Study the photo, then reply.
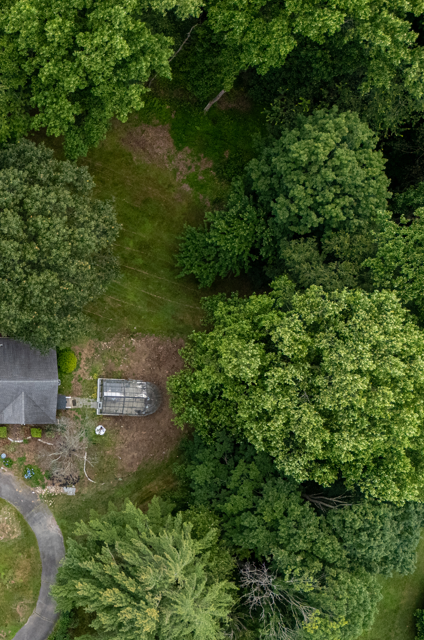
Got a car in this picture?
No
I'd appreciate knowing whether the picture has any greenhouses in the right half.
No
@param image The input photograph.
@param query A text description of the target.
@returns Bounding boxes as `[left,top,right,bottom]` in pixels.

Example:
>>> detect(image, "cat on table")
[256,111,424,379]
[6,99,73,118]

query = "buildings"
[95,378,160,418]
[0,336,67,426]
